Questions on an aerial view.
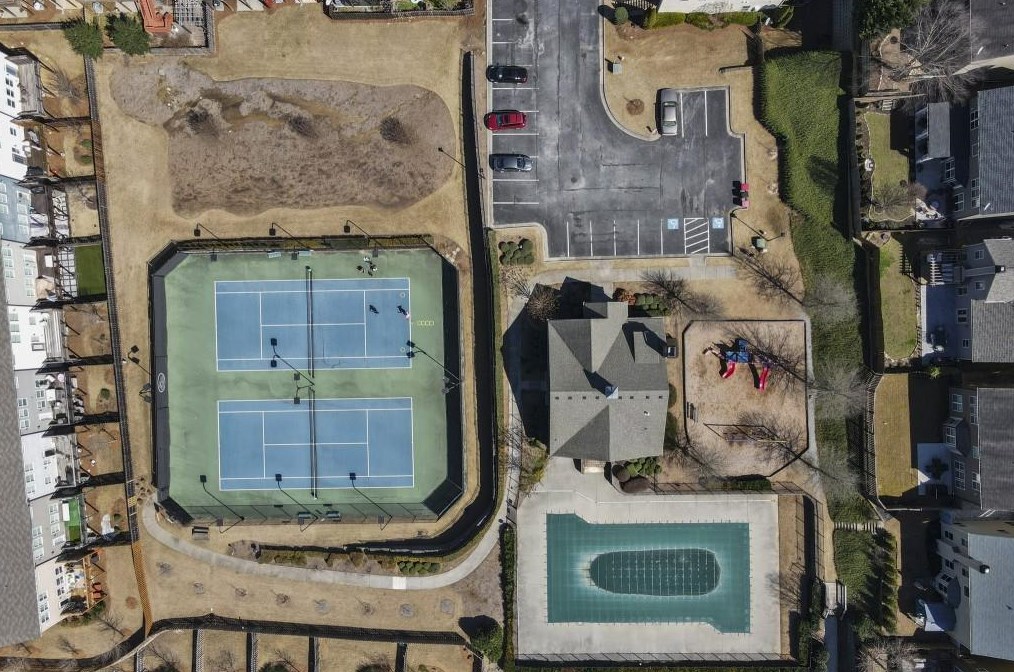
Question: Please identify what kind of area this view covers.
residential area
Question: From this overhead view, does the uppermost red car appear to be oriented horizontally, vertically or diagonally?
horizontally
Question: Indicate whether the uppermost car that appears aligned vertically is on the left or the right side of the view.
right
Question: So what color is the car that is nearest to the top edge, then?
black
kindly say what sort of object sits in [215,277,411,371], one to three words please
tennis court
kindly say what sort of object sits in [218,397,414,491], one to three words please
tennis court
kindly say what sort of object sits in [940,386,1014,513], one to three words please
house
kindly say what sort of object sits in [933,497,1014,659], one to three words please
house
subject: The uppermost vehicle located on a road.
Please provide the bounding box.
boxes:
[487,64,526,85]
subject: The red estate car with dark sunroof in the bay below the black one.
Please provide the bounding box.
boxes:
[485,111,526,132]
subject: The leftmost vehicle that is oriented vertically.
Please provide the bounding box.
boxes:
[659,91,679,136]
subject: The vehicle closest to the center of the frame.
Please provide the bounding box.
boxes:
[493,155,532,174]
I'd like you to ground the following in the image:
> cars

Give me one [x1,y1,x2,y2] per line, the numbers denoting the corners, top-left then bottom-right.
[487,64,526,85]
[485,111,526,132]
[659,91,679,136]
[493,155,532,174]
